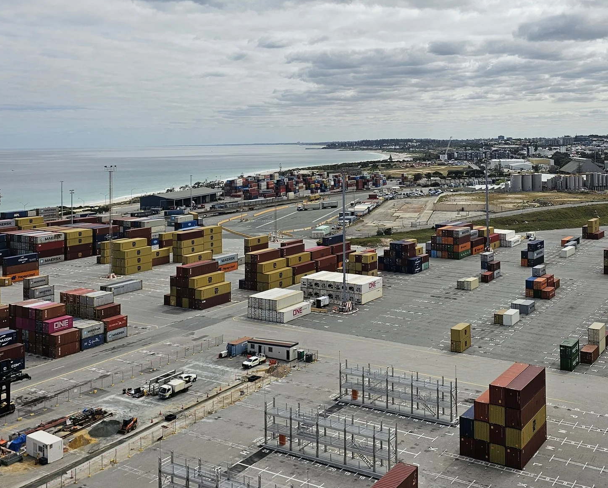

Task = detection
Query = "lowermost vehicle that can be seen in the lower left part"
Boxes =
[114,415,137,436]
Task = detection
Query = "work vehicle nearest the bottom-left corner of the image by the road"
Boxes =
[0,357,36,414]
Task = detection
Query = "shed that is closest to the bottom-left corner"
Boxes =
[23,431,63,462]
